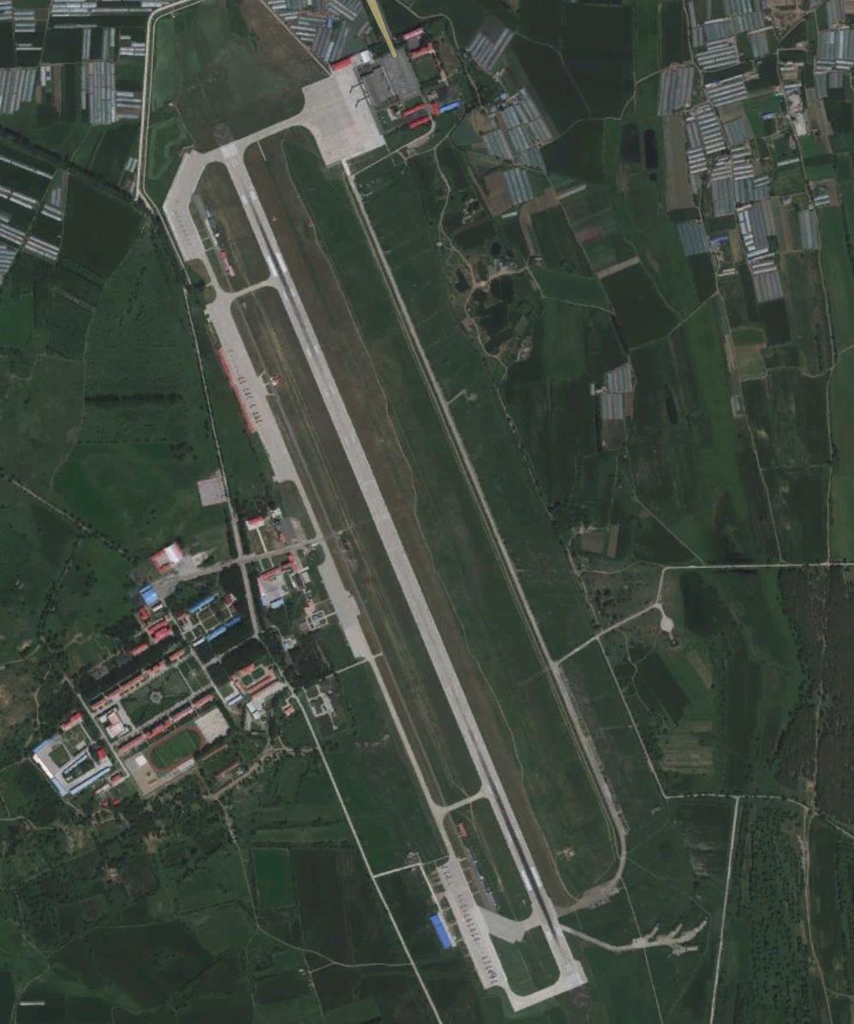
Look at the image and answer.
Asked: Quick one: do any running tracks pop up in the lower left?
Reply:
Yes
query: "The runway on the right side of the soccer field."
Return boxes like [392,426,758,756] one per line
[220,141,582,984]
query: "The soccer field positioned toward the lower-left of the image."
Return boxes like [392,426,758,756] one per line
[152,729,202,767]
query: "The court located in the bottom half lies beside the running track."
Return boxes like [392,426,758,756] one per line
[132,762,159,794]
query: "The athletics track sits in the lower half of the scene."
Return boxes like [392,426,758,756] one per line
[147,725,206,772]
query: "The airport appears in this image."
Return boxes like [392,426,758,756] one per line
[164,68,588,1011]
